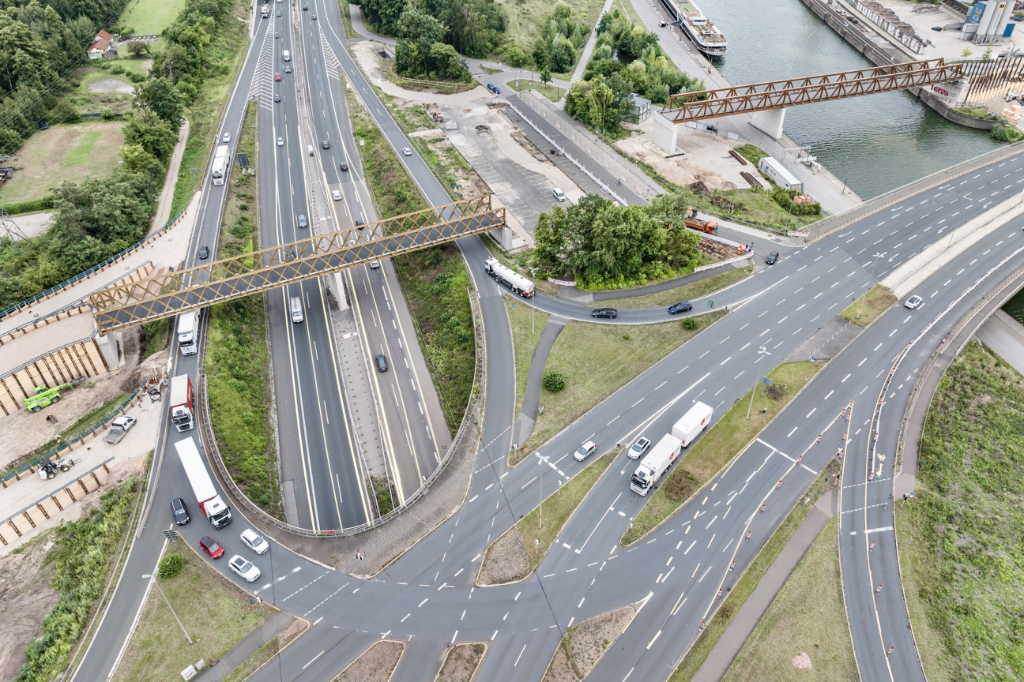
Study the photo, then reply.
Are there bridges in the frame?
Yes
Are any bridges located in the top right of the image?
Yes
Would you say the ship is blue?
No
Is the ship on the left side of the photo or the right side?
right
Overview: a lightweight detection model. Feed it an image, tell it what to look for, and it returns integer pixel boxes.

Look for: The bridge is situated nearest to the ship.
[659,53,969,125]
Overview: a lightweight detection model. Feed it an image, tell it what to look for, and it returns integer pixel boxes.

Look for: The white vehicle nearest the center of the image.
[481,260,538,303]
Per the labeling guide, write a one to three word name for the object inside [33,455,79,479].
work vehicle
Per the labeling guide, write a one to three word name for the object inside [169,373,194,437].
truck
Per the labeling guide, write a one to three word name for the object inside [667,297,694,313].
car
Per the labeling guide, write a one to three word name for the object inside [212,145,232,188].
vehicle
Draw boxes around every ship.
[663,0,734,62]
